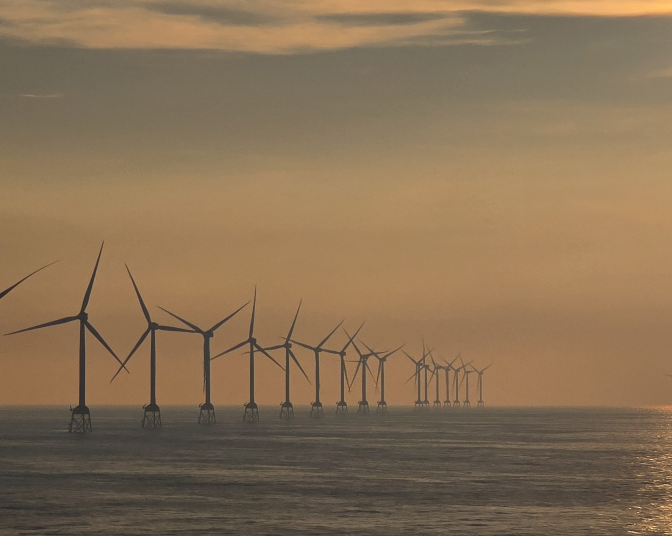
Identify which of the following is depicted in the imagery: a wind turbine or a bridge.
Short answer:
wind turbine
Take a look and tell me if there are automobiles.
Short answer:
No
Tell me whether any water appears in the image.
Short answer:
Yes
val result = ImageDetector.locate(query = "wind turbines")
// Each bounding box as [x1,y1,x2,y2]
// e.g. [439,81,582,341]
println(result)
[430,351,456,409]
[357,341,400,413]
[467,363,489,408]
[241,298,308,420]
[396,348,434,412]
[0,260,65,301]
[3,238,126,433]
[409,340,436,410]
[342,326,386,414]
[155,298,246,426]
[279,316,339,417]
[438,356,471,409]
[209,285,283,422]
[310,321,360,416]
[458,355,479,408]
[110,262,207,428]
[423,343,452,410]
